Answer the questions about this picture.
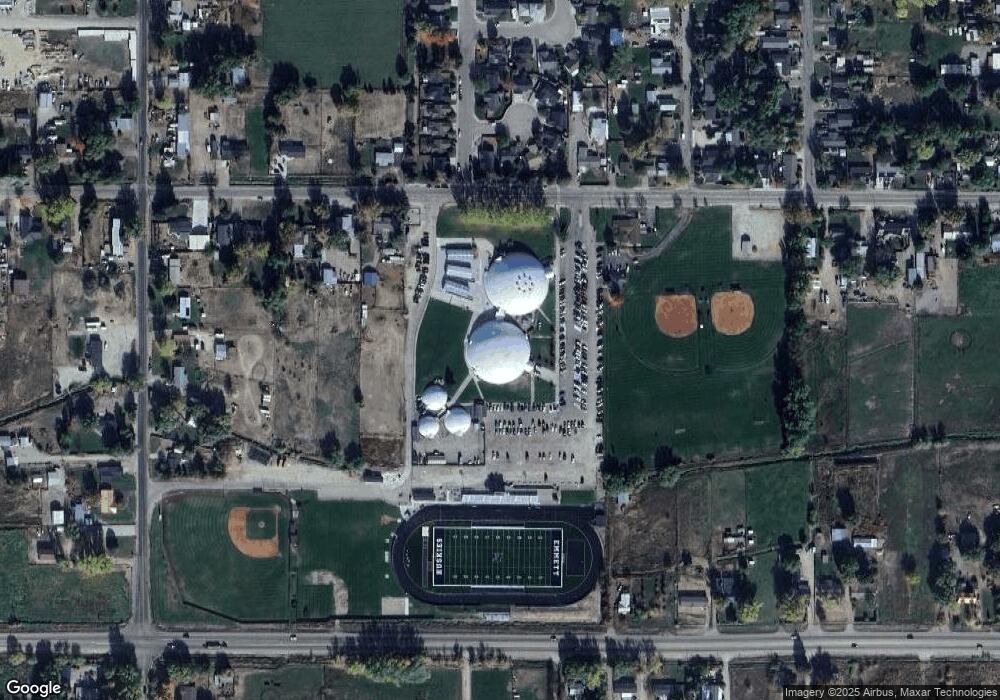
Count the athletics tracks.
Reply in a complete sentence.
Just 1 athletics track appears in this view.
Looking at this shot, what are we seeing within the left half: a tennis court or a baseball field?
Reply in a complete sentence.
The one visible within the left half is a baseball field.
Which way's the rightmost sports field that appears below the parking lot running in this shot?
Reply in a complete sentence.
I'd say the rightmost sports field that appears below the parking lot is aligned from side to side in the picture.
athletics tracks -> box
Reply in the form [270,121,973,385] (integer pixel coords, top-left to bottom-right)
[392,505,604,604]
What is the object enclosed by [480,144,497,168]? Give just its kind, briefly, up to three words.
house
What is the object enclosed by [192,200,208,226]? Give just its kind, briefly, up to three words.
barn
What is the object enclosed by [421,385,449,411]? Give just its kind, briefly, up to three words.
building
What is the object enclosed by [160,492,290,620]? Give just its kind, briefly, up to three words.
baseball field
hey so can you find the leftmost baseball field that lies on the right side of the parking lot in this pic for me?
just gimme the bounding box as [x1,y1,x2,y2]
[617,262,704,376]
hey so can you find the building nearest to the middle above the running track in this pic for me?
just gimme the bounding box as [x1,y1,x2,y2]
[465,311,535,384]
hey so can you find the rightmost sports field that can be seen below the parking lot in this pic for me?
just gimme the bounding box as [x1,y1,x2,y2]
[405,520,592,595]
